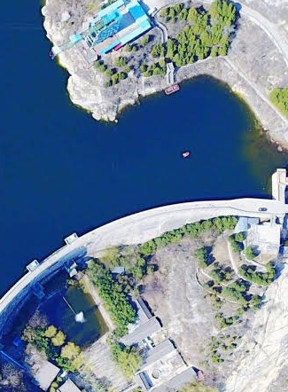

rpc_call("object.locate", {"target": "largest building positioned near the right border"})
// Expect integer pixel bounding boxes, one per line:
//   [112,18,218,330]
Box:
[244,214,281,254]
